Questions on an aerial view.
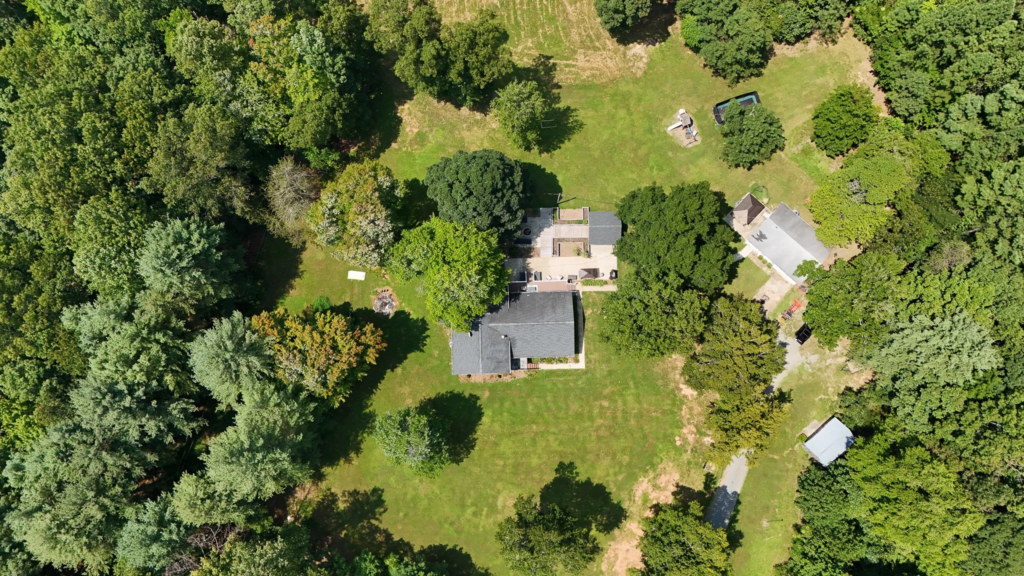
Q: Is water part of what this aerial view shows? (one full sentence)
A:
No, there's no water in this view.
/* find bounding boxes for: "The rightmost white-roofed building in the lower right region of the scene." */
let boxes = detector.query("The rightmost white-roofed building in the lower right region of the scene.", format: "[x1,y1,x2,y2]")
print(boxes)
[799,415,855,468]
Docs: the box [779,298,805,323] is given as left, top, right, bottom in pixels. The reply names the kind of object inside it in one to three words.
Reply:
work vehicle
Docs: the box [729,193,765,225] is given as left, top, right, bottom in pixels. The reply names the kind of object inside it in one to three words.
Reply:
gazebo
